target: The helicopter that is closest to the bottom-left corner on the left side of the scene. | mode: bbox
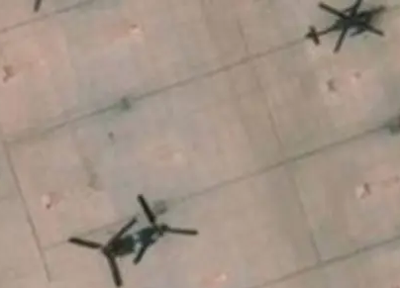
[65,193,203,288]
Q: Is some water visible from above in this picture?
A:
No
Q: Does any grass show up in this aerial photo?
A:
No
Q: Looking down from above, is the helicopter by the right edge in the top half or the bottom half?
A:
top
